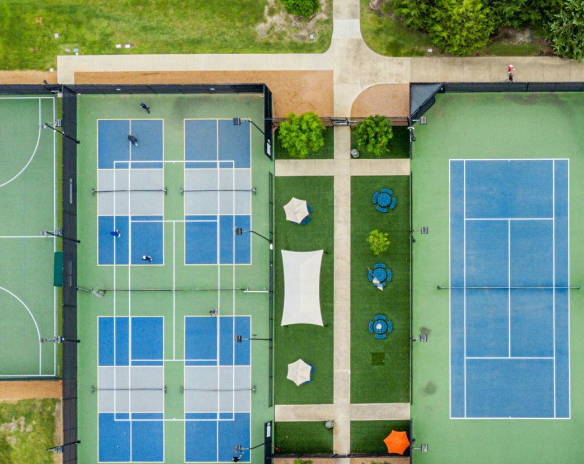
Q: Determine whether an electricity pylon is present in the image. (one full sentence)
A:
No, no electricity pylon is visible in the view.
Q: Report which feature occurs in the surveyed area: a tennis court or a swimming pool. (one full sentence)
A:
It is a tennis court that can be seen here.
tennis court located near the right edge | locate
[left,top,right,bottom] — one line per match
[409,91,584,464]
